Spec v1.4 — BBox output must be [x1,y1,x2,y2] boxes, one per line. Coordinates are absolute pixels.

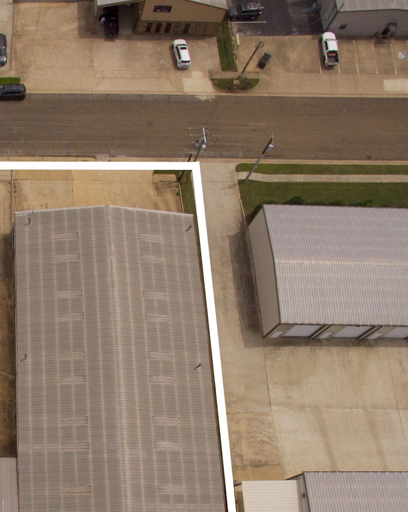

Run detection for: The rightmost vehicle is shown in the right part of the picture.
[319,31,340,68]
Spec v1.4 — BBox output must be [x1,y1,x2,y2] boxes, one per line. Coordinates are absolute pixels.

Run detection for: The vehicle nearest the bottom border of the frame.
[0,83,27,101]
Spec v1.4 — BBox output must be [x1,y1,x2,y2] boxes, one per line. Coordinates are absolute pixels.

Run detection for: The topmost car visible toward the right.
[227,1,263,20]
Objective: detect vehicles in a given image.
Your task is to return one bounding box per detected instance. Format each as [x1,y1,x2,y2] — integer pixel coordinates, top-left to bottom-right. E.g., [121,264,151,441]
[99,5,121,37]
[0,83,27,101]
[172,40,191,69]
[0,33,8,66]
[227,1,263,20]
[319,31,340,68]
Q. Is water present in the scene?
No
